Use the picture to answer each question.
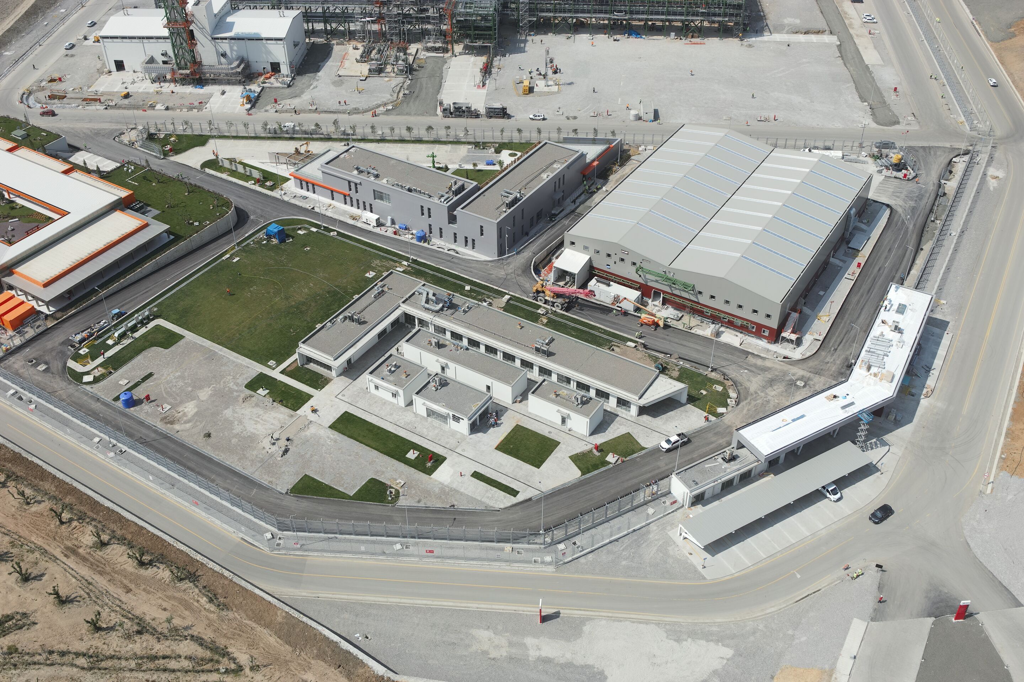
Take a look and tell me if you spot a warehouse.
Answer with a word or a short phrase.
Yes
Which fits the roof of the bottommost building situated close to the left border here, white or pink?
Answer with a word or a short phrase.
white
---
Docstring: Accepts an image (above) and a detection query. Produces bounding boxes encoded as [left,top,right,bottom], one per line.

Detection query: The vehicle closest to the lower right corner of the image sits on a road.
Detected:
[870,500,895,521]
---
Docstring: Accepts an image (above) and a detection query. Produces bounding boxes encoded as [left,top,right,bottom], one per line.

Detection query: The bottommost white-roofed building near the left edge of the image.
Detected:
[0,146,171,318]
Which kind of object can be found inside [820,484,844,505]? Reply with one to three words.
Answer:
vehicle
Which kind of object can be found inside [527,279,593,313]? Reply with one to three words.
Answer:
crane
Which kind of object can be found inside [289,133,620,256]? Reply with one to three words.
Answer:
building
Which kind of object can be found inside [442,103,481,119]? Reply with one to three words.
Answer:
vehicle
